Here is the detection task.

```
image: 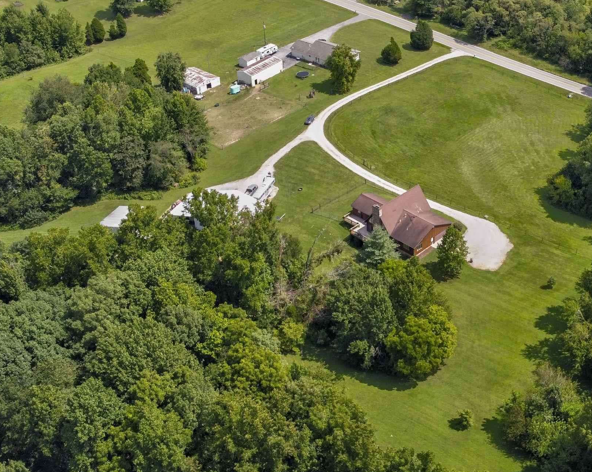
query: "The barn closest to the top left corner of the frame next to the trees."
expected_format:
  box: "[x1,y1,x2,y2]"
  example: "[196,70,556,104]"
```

[173,69,224,93]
